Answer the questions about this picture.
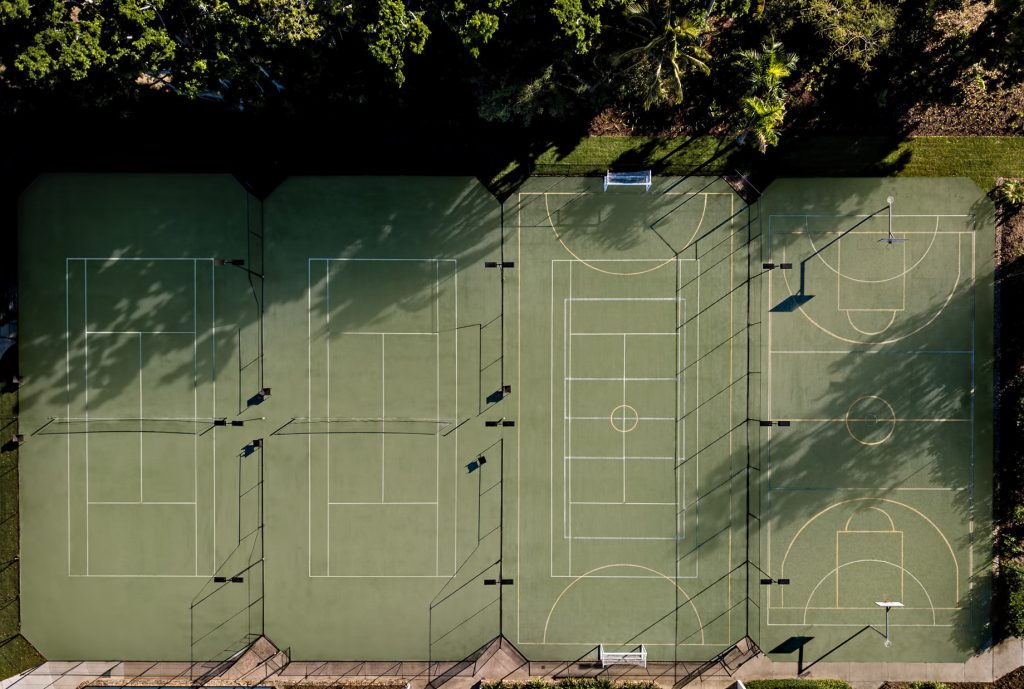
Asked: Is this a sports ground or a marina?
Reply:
sports ground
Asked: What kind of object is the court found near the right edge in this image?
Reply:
basketball court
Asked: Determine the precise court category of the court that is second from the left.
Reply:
tennis court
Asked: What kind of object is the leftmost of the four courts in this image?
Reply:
tennis court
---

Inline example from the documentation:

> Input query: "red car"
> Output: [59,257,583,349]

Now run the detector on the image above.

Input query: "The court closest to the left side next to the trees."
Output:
[19,174,263,660]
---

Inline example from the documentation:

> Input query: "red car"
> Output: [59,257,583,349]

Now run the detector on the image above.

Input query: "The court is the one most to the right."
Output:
[749,178,997,662]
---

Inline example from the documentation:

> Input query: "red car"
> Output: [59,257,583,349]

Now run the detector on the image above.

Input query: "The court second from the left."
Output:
[263,177,502,660]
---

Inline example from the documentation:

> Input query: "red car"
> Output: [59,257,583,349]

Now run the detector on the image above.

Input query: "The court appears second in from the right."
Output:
[502,177,748,659]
